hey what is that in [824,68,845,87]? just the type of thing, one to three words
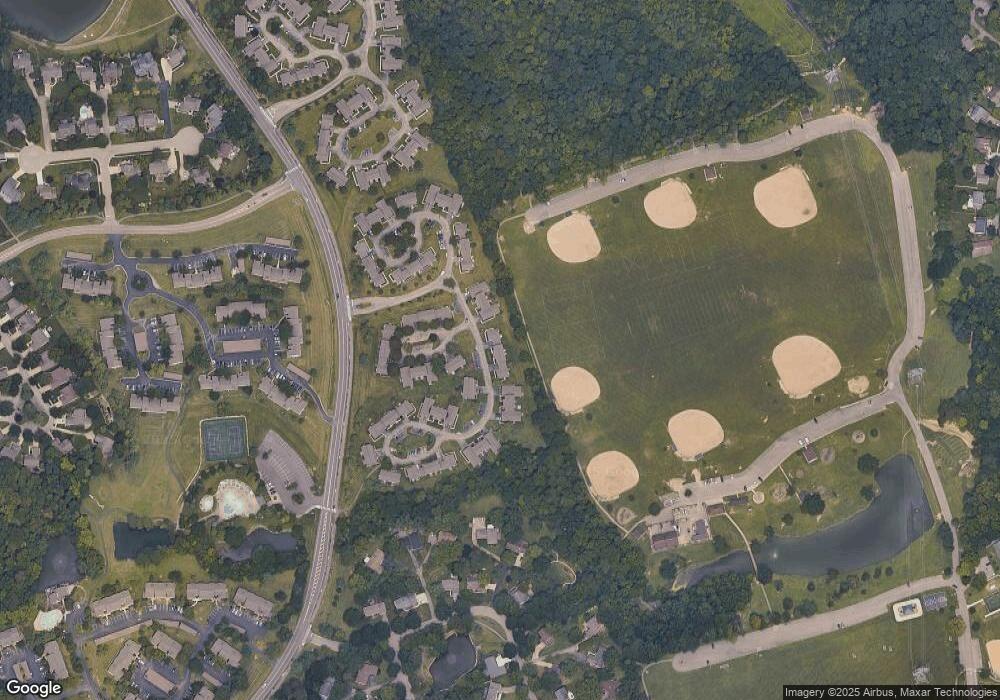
pylon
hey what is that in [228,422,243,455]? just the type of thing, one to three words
tennis court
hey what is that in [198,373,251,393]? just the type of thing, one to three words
building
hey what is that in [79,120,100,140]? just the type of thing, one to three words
house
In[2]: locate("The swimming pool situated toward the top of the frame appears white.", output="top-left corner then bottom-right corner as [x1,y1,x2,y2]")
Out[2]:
[79,105,94,120]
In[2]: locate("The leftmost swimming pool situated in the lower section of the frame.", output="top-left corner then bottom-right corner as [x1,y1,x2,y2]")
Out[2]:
[34,610,62,632]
